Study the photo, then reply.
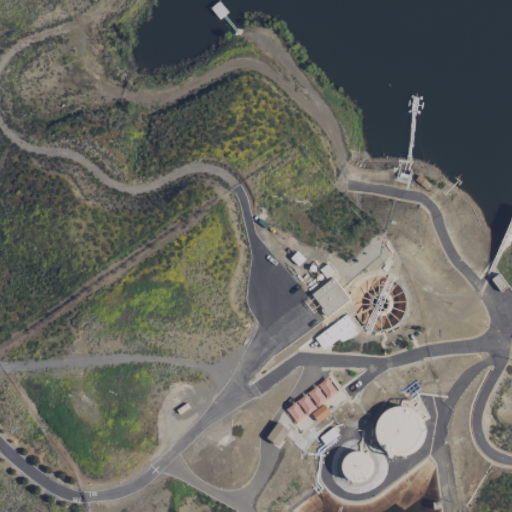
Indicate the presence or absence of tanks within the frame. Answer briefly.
Yes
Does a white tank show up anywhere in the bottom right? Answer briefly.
Yes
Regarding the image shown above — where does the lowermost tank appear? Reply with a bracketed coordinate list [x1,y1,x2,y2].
[342,451,375,484]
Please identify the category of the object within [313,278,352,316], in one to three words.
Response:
building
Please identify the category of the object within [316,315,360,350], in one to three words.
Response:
building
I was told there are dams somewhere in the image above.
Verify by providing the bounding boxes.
[488,224,512,288]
